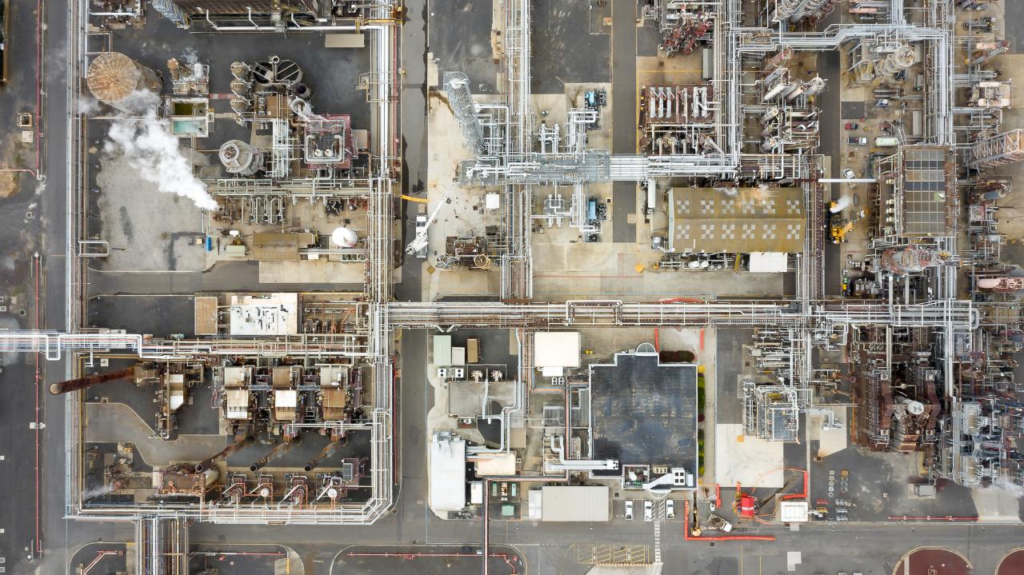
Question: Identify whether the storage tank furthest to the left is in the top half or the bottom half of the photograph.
top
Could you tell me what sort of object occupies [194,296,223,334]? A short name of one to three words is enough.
building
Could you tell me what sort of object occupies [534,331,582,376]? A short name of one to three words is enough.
building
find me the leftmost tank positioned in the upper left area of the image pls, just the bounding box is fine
[87,53,164,115]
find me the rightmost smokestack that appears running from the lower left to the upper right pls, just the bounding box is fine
[304,430,346,472]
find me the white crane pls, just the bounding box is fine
[404,197,452,258]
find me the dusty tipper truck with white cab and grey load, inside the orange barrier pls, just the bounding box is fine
[706,513,734,534]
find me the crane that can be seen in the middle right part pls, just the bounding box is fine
[831,212,864,241]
